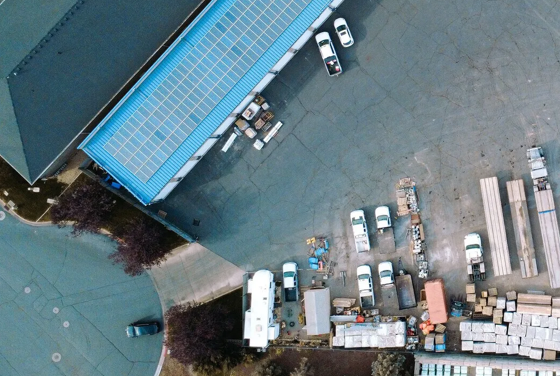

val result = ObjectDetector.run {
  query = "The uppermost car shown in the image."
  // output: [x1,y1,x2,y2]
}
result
[334,18,354,48]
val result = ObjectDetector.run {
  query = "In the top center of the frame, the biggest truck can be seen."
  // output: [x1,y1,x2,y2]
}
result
[316,31,344,78]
